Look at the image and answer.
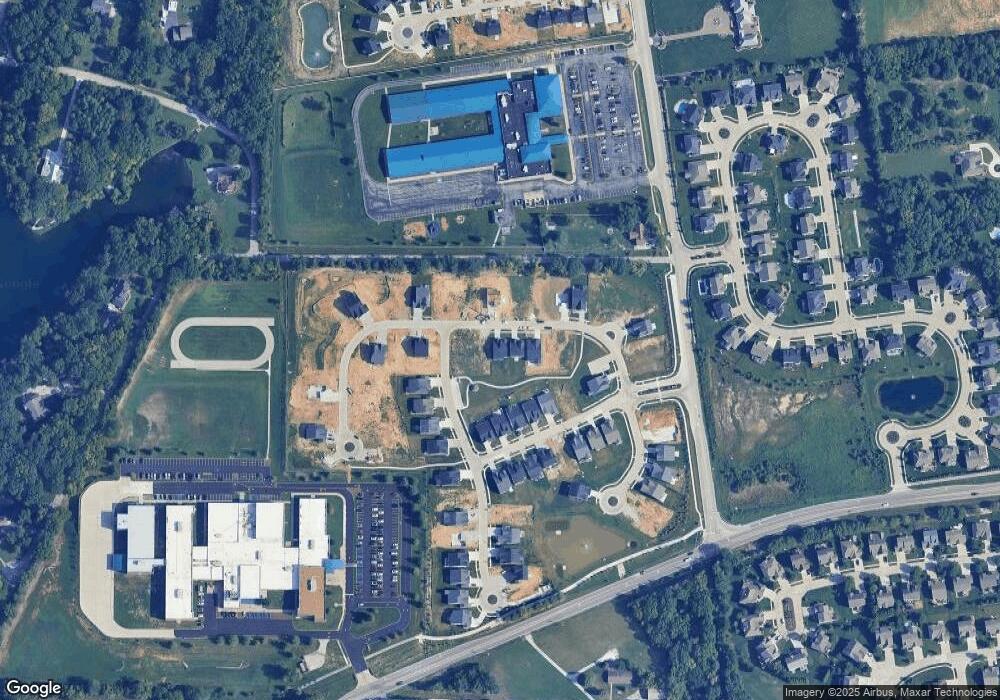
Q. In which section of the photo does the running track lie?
left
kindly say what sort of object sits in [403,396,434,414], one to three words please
house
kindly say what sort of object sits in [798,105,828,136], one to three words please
roundabout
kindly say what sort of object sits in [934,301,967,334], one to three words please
roundabout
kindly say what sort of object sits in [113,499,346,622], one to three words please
building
